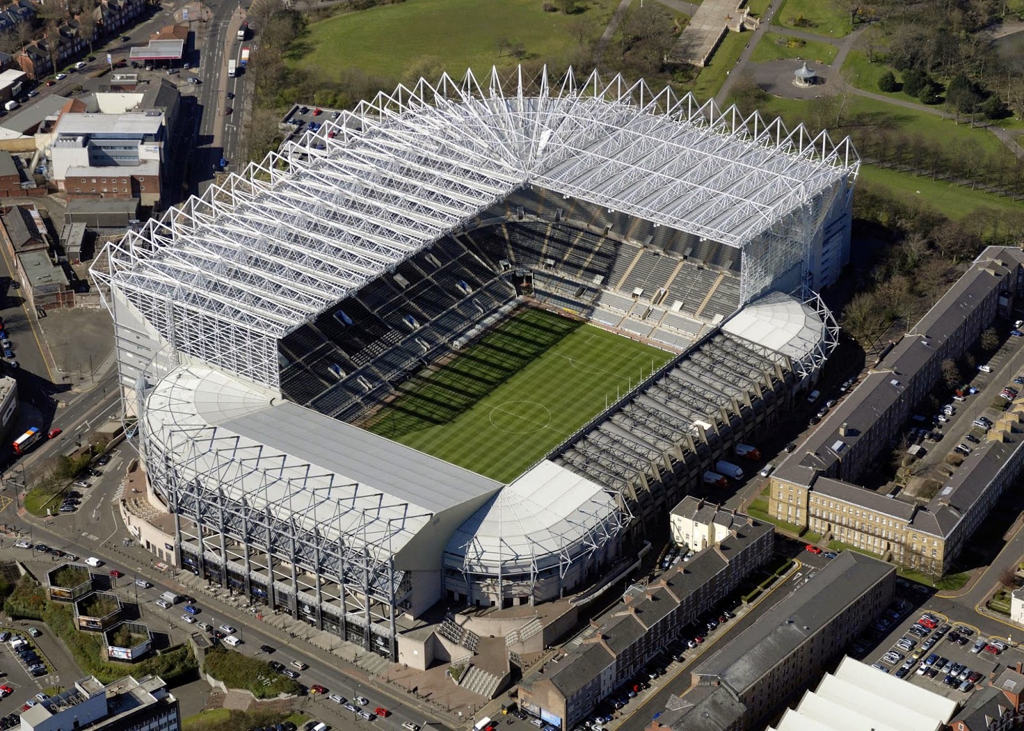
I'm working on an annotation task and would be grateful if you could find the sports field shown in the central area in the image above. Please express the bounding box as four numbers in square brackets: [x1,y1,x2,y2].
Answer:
[354,305,680,532]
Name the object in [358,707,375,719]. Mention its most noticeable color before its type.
gray vehicle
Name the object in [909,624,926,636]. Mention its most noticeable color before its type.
black vehicle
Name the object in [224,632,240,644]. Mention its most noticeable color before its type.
white vehicle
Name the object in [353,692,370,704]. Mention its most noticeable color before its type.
gray vehicle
